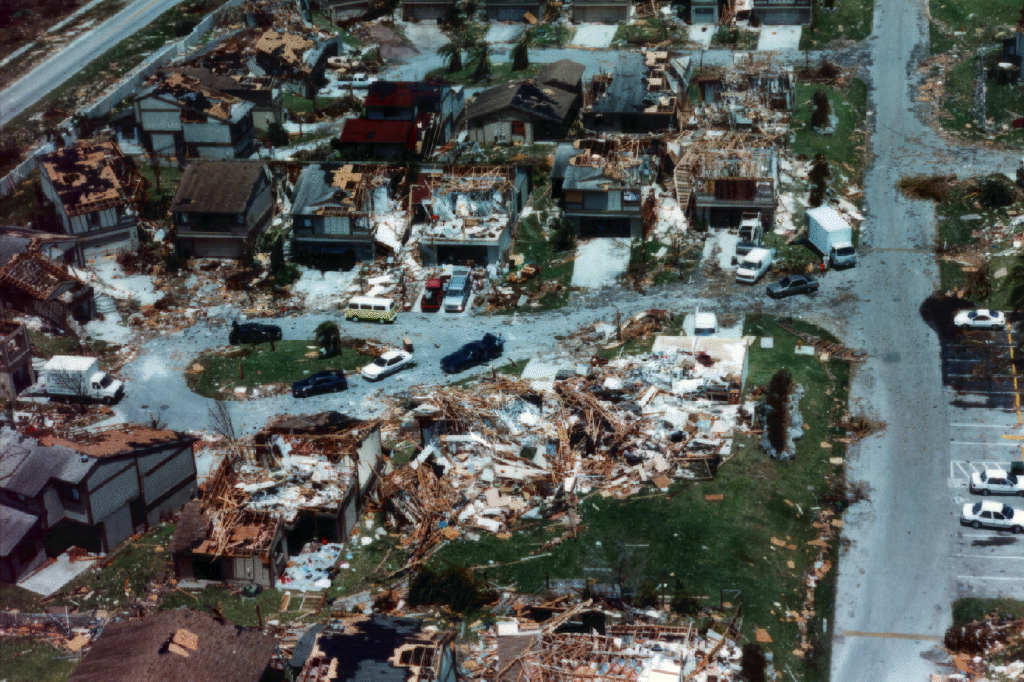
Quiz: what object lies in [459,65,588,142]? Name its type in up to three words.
house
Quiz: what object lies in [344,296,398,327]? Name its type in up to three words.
bus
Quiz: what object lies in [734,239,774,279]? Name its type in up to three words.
van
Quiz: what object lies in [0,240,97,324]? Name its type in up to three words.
house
